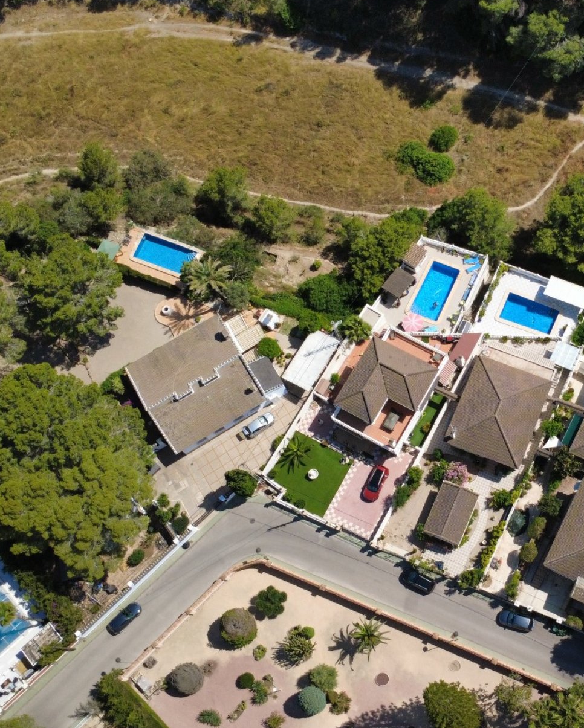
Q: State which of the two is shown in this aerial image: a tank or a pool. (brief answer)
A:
pool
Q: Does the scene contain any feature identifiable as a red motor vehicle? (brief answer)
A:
Yes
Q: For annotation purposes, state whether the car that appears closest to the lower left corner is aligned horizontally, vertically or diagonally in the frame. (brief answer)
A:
diagonally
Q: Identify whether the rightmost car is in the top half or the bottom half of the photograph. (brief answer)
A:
bottom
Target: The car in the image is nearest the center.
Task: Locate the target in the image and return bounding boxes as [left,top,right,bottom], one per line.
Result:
[237,412,278,443]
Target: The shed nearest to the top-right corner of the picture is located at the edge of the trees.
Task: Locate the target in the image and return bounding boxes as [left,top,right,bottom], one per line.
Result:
[403,246,428,278]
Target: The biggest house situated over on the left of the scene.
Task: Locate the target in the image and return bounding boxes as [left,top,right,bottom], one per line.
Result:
[124,312,266,456]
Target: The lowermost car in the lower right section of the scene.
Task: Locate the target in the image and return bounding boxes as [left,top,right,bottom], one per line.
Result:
[494,607,538,637]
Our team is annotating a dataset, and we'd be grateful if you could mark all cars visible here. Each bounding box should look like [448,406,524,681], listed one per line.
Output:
[101,599,147,641]
[237,412,278,443]
[397,567,440,598]
[494,607,538,637]
[361,462,391,505]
